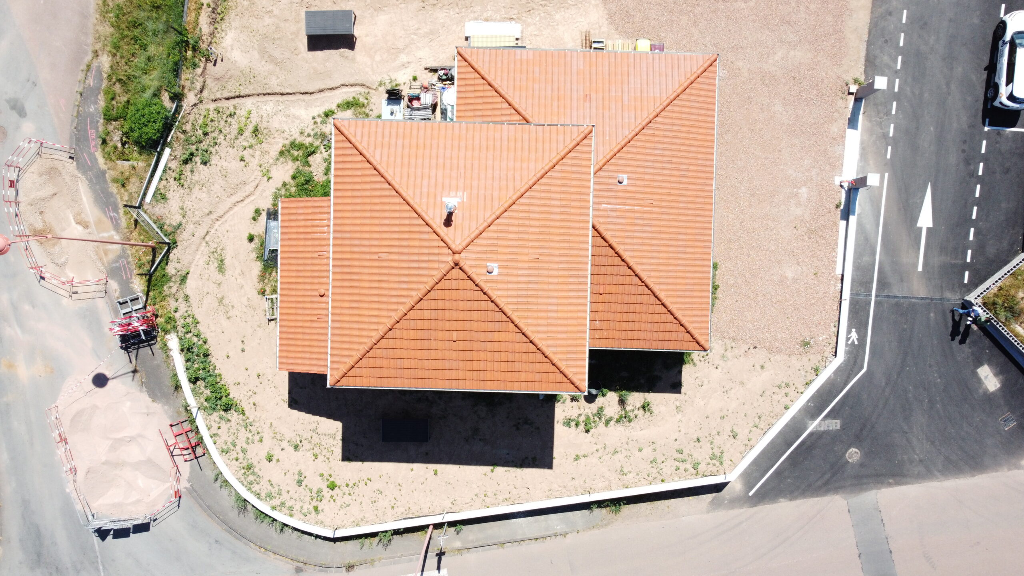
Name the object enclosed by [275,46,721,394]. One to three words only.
house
